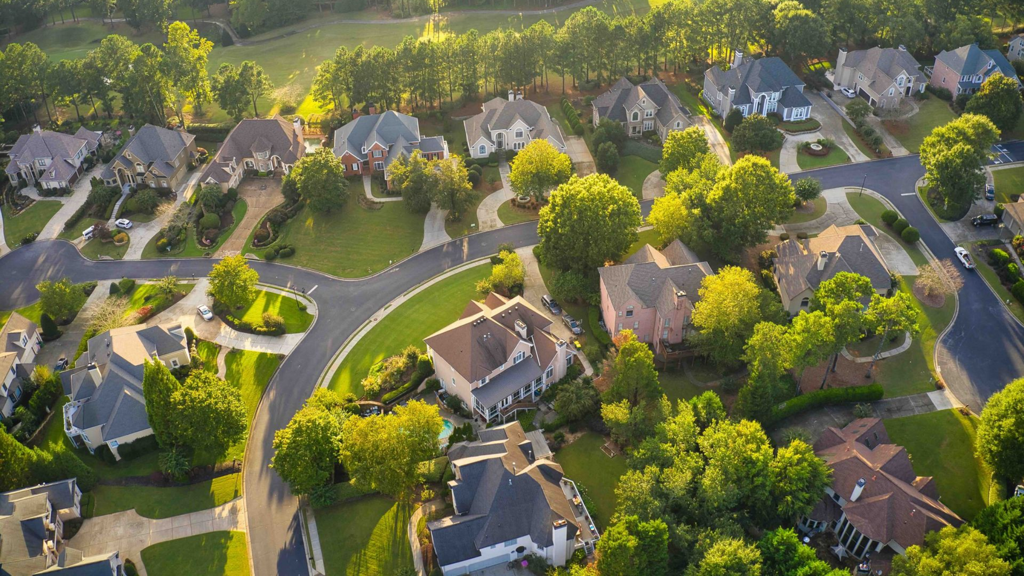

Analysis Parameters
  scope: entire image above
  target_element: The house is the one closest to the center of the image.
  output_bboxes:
[420,281,576,422]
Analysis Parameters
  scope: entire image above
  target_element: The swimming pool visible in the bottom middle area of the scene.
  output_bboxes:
[415,417,454,449]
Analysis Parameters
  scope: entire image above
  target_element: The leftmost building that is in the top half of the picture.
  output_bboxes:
[6,125,109,194]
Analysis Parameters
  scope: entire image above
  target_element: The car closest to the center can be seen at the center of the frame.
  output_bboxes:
[541,291,563,314]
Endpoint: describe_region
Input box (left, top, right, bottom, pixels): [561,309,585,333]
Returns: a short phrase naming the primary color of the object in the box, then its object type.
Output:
gray car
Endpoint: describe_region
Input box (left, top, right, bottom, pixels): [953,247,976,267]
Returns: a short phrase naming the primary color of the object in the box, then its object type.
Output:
white vehicle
